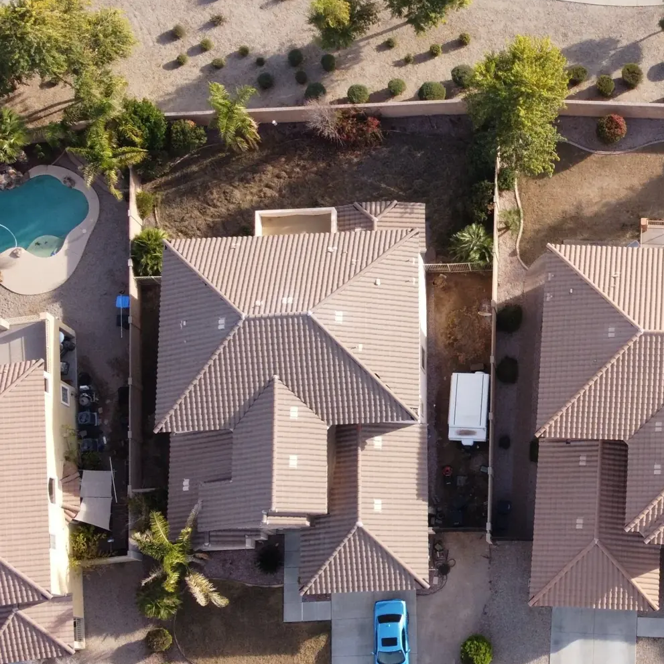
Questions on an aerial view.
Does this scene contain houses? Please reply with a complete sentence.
Yes, a house is visible in the scene.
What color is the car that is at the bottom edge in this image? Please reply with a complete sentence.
In this view, the car that is at the bottom edge is blue.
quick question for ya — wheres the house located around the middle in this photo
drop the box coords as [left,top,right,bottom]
[152,197,430,595]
